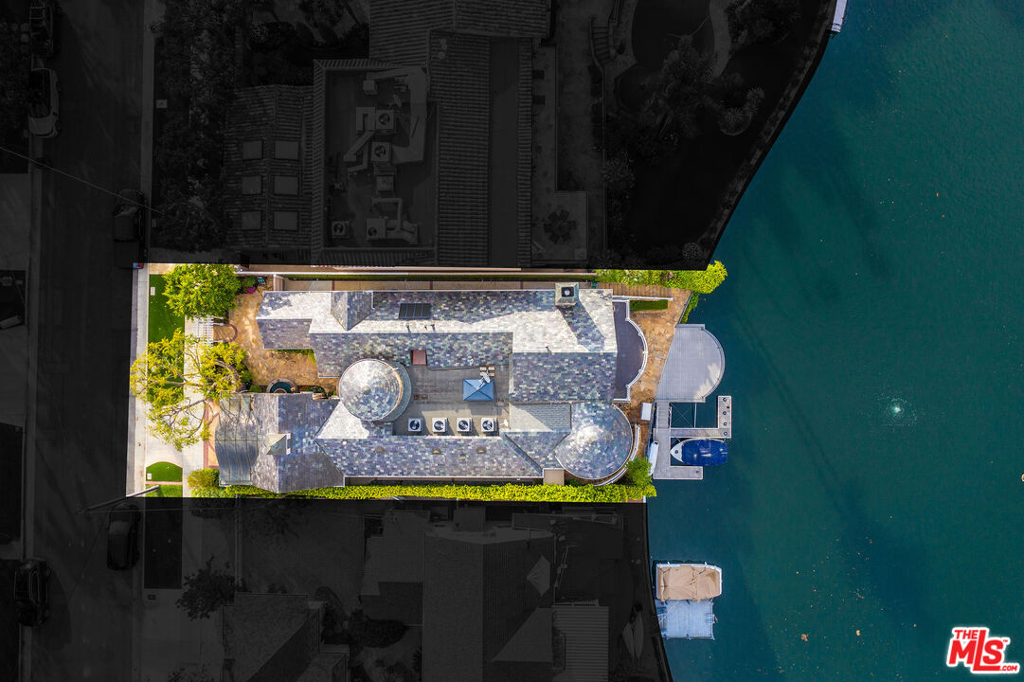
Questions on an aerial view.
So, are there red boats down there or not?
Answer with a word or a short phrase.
No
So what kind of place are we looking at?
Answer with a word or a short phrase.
residential area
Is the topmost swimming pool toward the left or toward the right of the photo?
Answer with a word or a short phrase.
right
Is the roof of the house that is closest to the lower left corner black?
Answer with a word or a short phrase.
Yes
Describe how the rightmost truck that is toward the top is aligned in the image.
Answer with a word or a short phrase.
up and down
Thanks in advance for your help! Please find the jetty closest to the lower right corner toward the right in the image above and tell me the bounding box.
[657,599,718,639]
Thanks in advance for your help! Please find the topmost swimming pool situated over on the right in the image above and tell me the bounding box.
[614,0,718,113]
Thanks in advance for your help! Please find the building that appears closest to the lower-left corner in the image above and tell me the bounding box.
[225,582,349,682]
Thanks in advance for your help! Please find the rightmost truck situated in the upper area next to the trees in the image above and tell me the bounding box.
[111,188,149,270]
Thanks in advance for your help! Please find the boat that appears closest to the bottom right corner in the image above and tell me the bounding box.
[658,565,724,604]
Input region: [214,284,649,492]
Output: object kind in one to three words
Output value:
house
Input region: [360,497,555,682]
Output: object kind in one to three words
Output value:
house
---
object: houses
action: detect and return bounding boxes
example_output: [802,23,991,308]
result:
[214,284,649,492]
[360,497,555,682]
[312,0,550,278]
[225,582,349,682]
